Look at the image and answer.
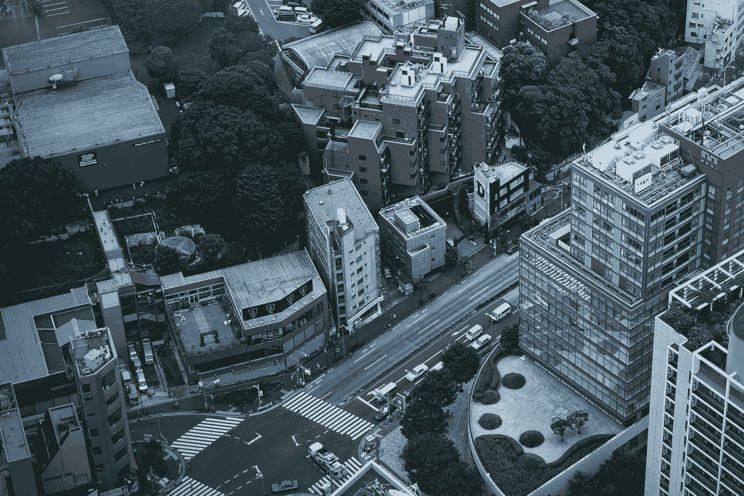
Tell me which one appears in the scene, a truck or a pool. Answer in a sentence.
Visible in the photo is a truck.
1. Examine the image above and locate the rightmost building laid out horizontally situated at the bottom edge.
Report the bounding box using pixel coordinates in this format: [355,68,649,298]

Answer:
[337,462,421,496]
